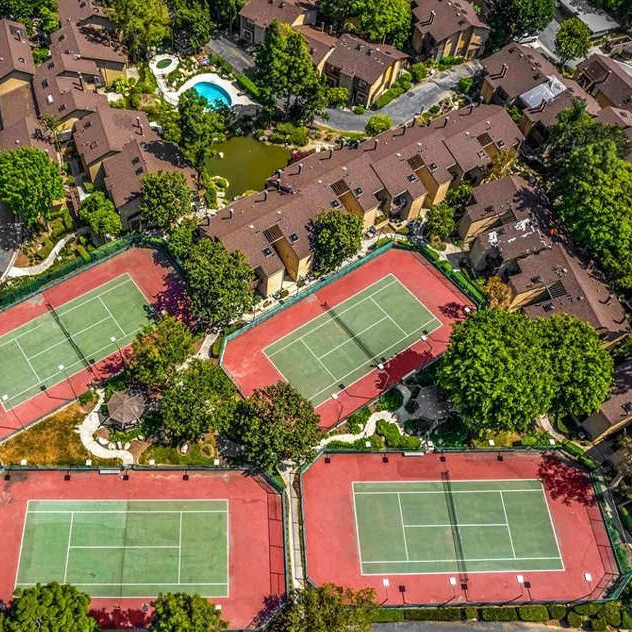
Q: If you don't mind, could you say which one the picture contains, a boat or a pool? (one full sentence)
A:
Of the two, only a pool appears.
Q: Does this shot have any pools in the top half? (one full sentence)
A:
Yes, a pool shows up in the top half.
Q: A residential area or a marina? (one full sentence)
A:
This looks like a residential area.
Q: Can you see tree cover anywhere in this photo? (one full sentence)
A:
Yes, the picture does contain tree cover.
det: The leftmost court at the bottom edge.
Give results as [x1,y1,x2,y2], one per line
[0,470,287,632]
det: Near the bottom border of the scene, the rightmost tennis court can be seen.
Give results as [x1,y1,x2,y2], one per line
[297,451,623,609]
